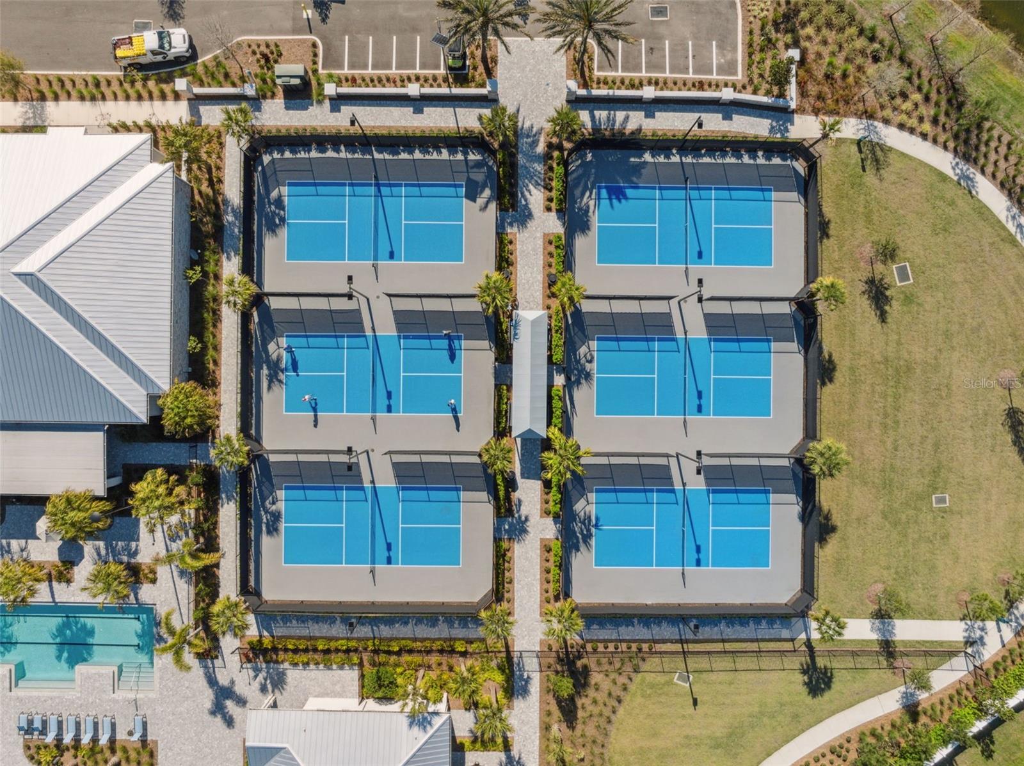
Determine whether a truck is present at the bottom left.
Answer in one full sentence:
No, I can find no truck at the bottom left.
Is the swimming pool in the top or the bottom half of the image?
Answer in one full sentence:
The swimming pool is in the bottom half of the image.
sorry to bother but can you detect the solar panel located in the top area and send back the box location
[430,28,450,47]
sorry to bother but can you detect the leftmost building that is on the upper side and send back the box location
[0,126,192,423]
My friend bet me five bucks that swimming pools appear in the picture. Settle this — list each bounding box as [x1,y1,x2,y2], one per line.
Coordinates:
[0,600,157,699]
